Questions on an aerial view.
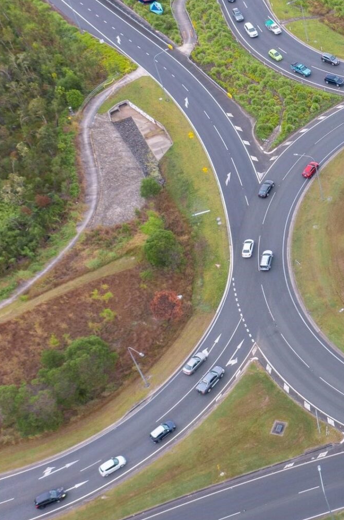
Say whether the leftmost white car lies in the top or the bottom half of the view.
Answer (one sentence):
The bottom half of the photo is where the leftmost white car is.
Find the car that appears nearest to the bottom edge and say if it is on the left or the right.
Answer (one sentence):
The car that appears nearest to the bottom edge appears in the left half of the scene.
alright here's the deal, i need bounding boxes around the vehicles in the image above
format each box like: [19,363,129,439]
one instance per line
[32,489,68,511]
[290,62,312,77]
[260,250,273,272]
[267,50,283,62]
[264,17,281,34]
[242,239,255,259]
[95,454,131,479]
[181,351,209,375]
[257,180,275,199]
[193,366,227,393]
[300,162,320,179]
[147,420,179,446]
[321,52,340,66]
[233,8,244,21]
[245,23,258,36]
[324,74,344,87]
